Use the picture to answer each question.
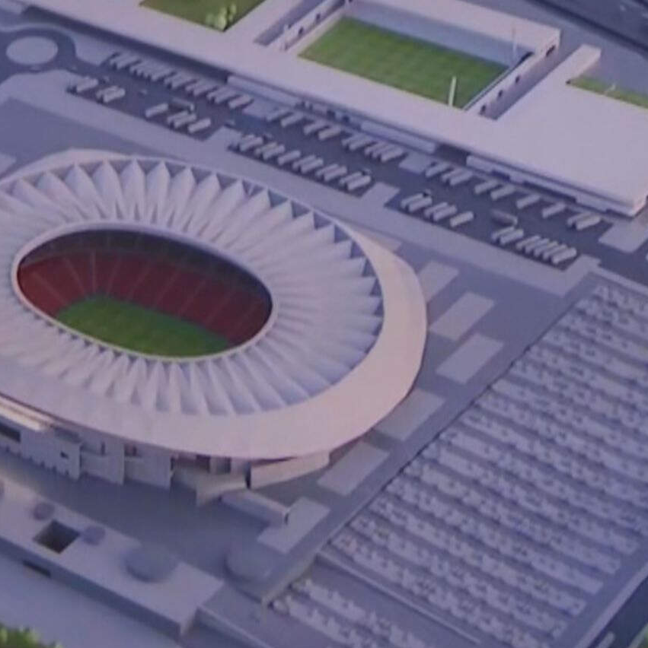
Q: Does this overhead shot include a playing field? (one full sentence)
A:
Yes, the photo shows a playing field.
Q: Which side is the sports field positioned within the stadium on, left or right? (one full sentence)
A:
The sports field positioned within the stadium is on the left side of the image.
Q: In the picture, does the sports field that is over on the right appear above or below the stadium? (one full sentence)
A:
The sports field that is over on the right is located above the stadium in this view.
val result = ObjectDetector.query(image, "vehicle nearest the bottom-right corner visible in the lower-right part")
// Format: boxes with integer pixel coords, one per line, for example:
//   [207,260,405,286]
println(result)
[592,629,618,648]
